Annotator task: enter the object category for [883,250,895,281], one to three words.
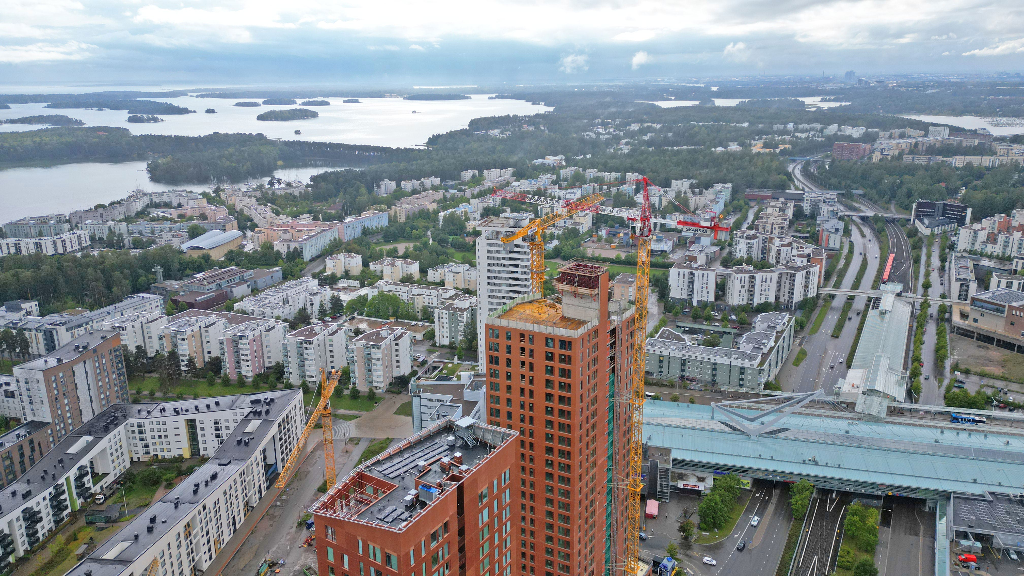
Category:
train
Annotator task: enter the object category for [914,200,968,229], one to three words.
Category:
building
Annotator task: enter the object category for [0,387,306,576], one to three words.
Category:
building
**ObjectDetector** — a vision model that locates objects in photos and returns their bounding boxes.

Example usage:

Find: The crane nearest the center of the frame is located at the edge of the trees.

[498,193,604,295]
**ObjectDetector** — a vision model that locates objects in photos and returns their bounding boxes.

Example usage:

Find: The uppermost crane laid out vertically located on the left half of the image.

[275,365,342,501]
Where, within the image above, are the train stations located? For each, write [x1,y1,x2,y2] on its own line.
[832,282,913,422]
